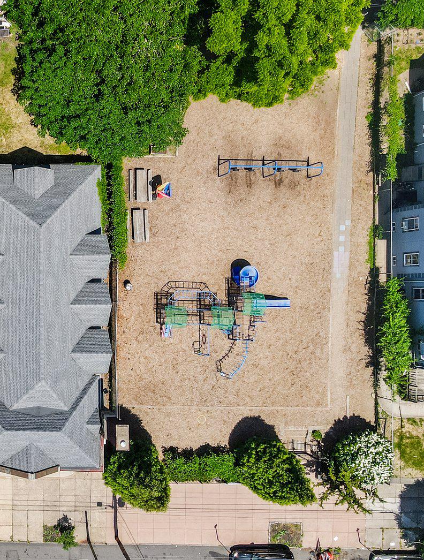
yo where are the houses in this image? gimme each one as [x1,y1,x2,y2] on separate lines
[0,160,131,483]
[390,89,424,331]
